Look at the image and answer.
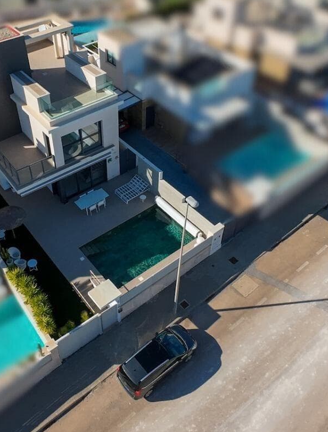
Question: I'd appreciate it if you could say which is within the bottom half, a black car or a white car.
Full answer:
You can see a black car within the bottom half.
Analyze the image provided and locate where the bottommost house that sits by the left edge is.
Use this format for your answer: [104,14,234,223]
[0,15,124,210]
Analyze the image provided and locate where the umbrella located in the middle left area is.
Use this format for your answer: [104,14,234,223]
[0,206,27,237]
